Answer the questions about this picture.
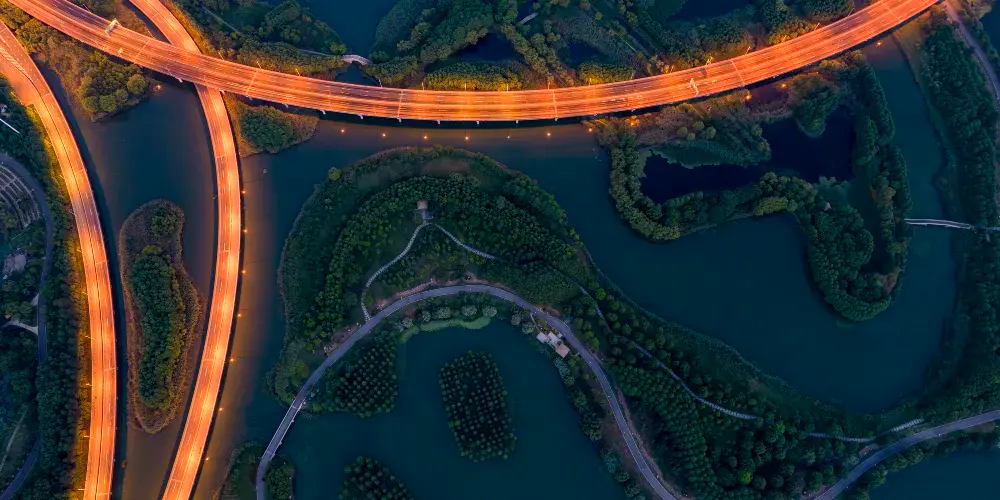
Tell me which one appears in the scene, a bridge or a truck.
bridge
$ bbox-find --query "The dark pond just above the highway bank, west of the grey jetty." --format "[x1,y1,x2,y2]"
[450,27,525,69]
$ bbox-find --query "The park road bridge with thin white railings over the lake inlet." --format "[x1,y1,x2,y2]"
[265,387,308,450]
